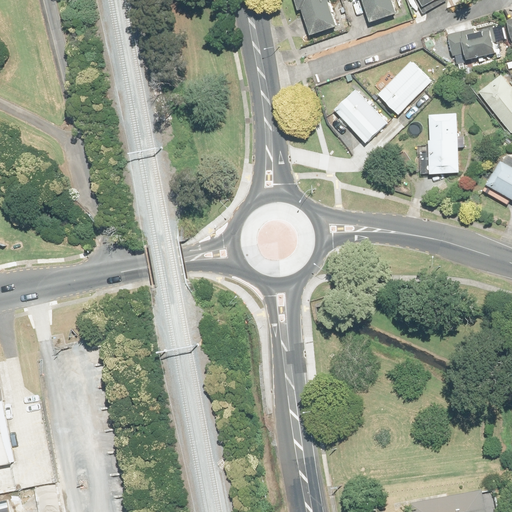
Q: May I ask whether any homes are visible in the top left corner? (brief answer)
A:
No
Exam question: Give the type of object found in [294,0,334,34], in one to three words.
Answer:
house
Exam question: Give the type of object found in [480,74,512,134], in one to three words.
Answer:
house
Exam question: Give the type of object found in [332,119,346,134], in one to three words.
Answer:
car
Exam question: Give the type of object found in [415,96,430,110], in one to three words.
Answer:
vehicle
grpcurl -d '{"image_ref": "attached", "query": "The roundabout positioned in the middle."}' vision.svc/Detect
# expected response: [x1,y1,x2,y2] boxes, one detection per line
[228,190,328,290]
